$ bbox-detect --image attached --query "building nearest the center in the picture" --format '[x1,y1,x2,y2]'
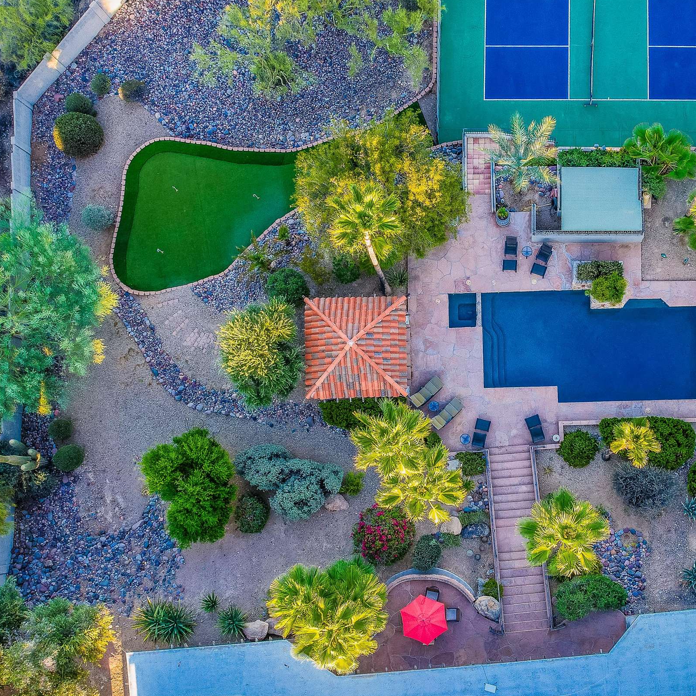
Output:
[301,294,413,404]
